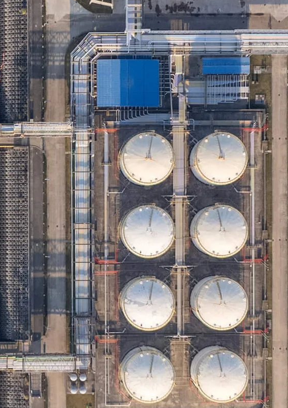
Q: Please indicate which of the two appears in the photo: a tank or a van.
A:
tank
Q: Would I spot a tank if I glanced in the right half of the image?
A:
Yes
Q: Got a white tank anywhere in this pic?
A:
Yes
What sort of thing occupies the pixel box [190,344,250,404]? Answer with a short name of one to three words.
storage tank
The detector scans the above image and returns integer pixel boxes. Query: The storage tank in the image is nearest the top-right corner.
[190,128,250,186]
